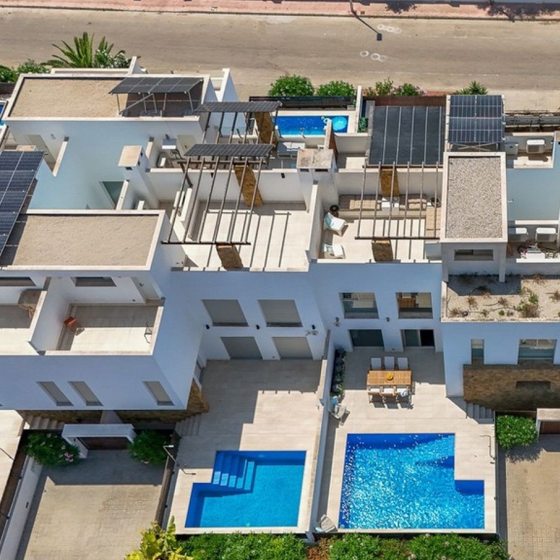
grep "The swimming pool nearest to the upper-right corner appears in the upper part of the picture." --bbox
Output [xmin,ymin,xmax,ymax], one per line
[271,115,351,136]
